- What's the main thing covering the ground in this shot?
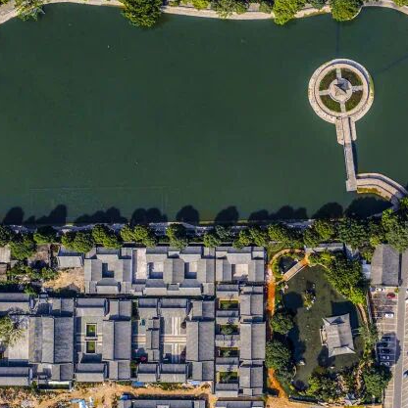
water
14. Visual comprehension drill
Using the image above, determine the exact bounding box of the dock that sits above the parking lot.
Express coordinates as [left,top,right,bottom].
[356,172,406,210]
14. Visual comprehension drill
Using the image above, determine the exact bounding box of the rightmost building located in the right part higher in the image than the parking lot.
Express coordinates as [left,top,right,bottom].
[371,245,399,286]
